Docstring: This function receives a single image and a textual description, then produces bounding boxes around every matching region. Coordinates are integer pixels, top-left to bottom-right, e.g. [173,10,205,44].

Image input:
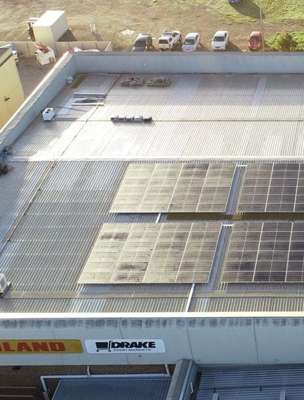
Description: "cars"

[153,30,179,50]
[133,33,156,51]
[210,32,231,49]
[248,31,265,49]
[180,32,202,50]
